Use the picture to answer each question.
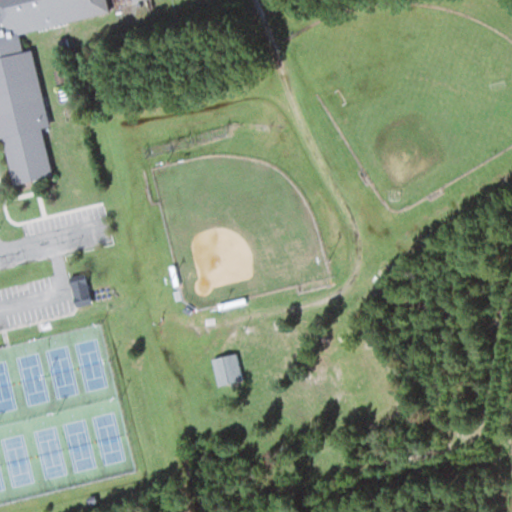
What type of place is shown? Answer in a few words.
sports ground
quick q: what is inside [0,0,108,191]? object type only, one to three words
building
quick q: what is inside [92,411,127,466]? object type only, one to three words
tennis court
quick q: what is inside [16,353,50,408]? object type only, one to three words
tennis court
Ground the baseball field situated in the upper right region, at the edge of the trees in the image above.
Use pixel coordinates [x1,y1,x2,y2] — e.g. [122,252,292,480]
[300,2,512,211]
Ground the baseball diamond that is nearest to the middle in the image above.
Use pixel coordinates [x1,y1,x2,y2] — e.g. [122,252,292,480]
[152,154,332,310]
